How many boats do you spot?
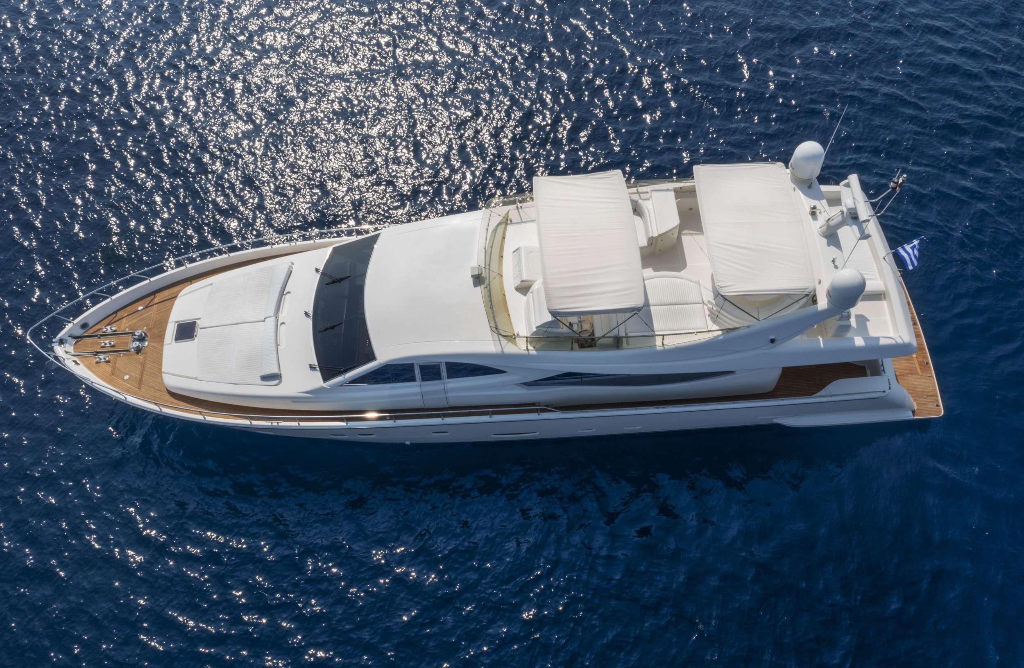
one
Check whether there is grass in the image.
No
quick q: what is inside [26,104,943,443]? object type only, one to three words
boat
